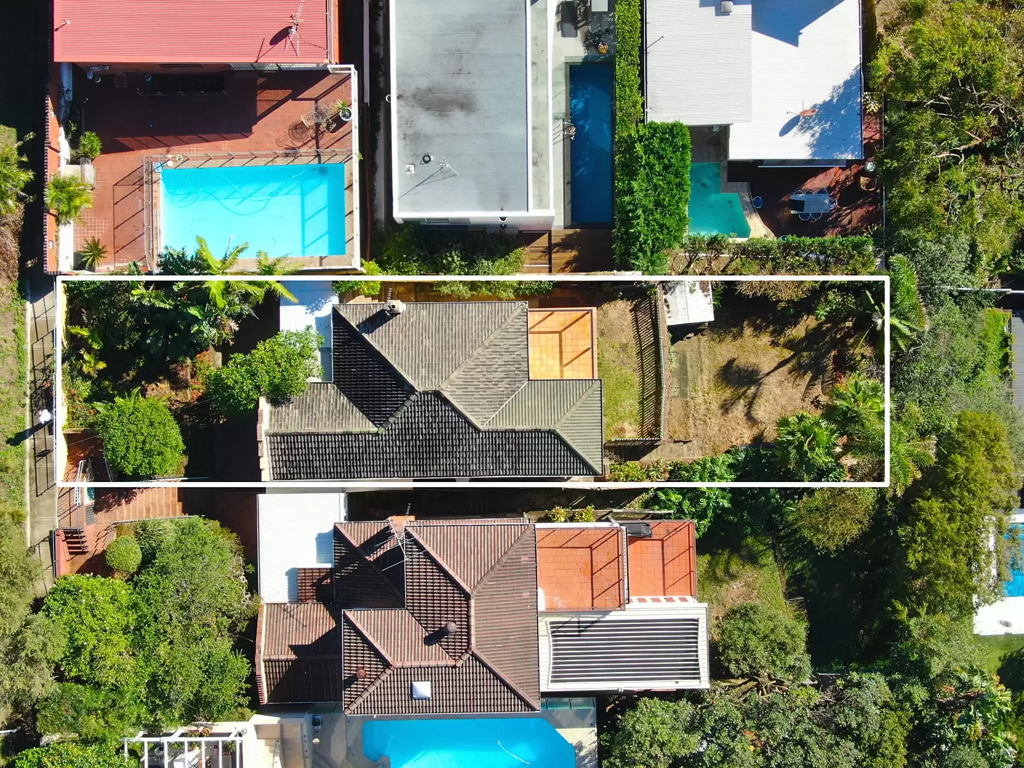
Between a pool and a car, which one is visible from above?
pool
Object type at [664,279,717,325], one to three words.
shed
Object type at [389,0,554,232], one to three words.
house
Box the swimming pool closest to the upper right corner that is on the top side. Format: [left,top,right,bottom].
[684,160,773,240]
